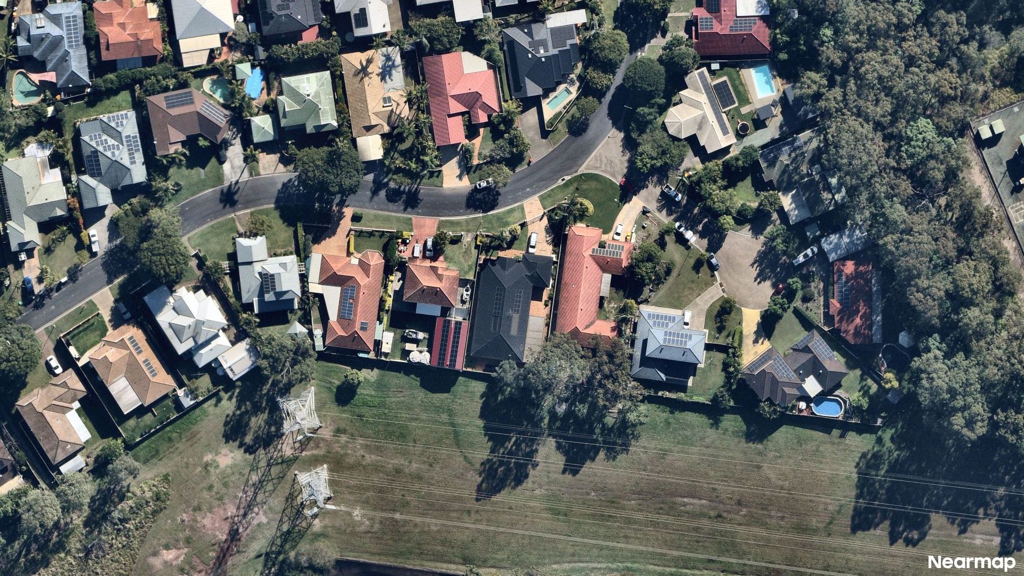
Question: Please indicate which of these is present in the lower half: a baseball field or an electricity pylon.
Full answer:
Looking in the lower half, you will find an electricity pylon.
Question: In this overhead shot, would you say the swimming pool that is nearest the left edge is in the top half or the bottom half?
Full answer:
You can find the swimming pool that is nearest the left edge in the top half.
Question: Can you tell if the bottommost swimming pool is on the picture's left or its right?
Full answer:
The bottommost swimming pool sits on the right side.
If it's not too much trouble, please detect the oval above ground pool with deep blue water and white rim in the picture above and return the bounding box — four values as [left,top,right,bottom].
[810,396,845,419]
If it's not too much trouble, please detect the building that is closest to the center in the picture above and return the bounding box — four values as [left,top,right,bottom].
[470,254,555,361]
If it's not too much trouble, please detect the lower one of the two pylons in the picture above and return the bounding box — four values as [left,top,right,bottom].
[294,464,334,509]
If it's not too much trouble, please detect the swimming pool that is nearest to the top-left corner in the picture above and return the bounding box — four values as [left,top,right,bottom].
[12,70,42,105]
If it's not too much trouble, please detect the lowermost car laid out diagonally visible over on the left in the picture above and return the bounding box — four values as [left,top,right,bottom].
[46,354,63,375]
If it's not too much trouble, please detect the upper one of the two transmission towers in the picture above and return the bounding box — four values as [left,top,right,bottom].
[277,387,323,436]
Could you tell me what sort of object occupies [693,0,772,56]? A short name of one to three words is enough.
house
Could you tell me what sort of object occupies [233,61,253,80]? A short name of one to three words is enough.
gazebo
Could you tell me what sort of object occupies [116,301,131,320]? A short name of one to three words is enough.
car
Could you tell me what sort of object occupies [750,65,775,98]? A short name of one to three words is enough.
swimming pool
